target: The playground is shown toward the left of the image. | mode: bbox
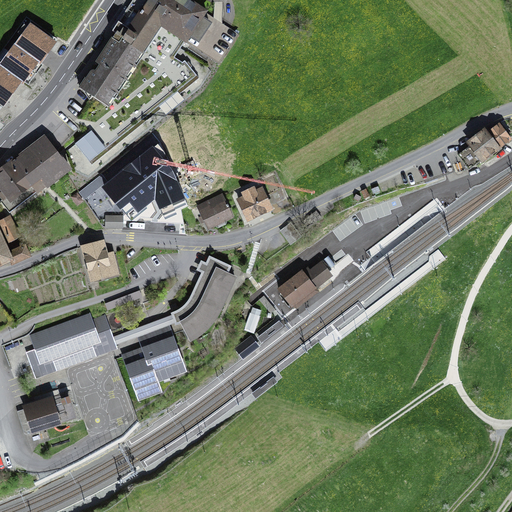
[68,352,134,434]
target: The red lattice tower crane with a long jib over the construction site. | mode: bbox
[150,156,313,192]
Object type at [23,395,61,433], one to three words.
building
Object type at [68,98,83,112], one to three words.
vehicle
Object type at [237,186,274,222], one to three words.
house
